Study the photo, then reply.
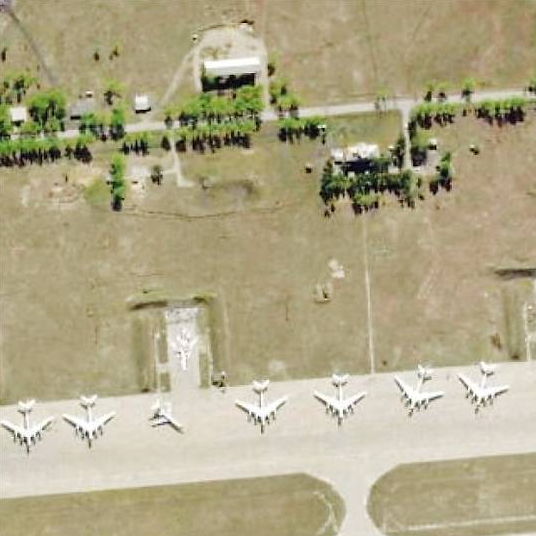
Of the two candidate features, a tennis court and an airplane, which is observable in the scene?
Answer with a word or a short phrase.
airplane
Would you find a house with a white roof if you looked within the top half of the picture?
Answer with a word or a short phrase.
Yes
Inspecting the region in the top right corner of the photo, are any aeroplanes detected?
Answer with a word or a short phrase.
No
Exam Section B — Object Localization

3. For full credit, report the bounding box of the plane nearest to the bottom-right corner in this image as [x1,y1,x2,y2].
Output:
[459,361,510,411]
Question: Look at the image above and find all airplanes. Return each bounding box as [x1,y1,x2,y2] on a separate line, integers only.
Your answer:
[150,397,182,428]
[1,400,53,450]
[314,373,366,422]
[62,395,115,444]
[459,361,510,411]
[235,381,287,431]
[395,365,445,413]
